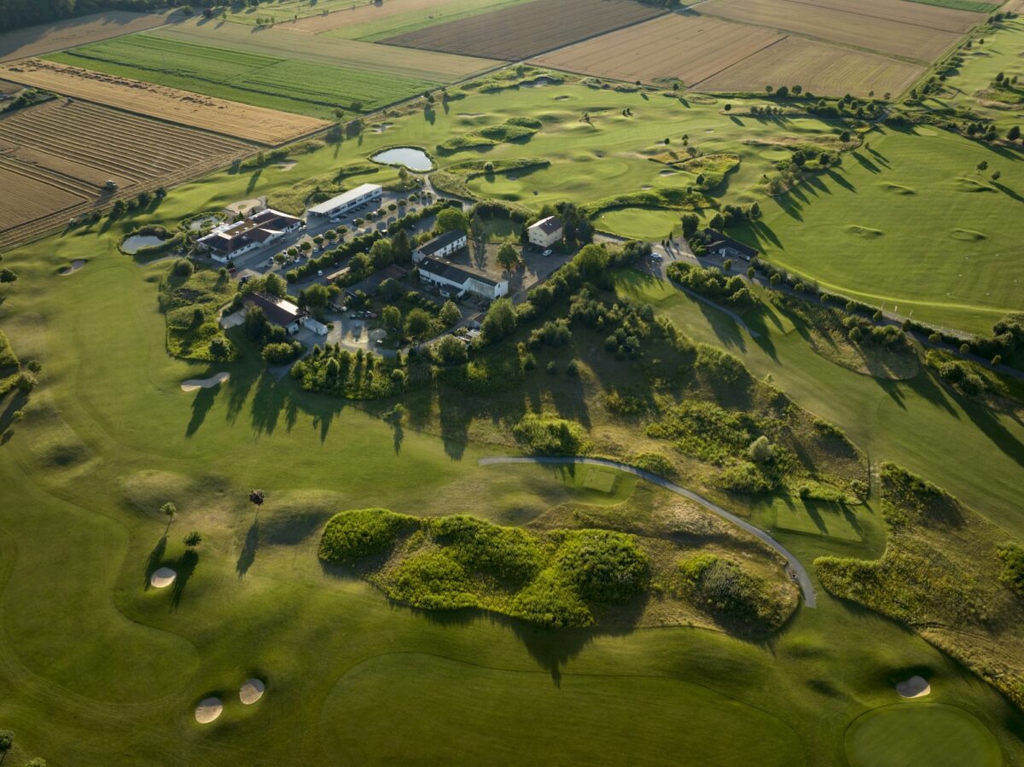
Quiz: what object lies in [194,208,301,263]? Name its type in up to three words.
building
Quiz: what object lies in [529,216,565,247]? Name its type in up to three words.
house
